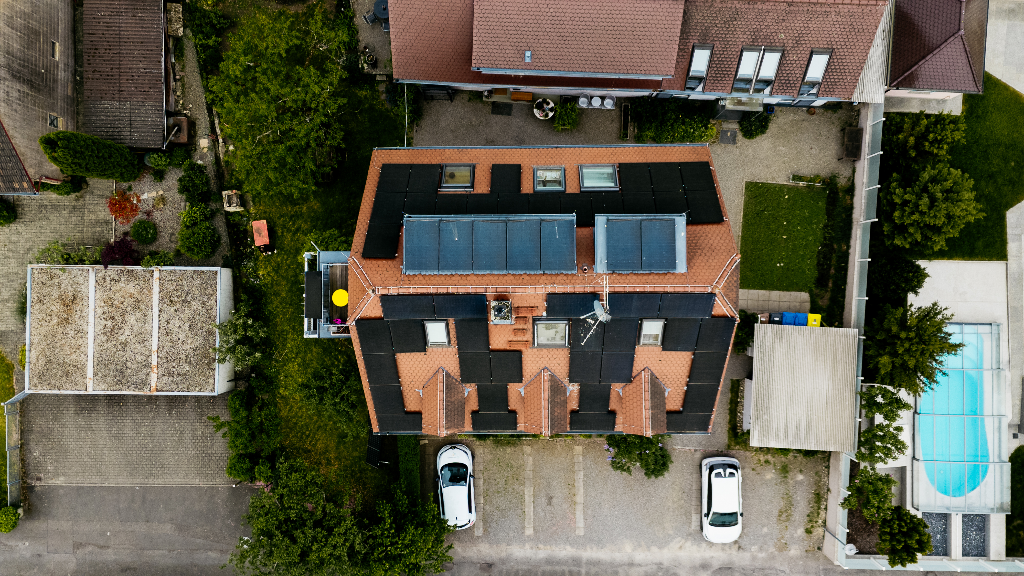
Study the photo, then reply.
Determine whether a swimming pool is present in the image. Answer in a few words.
Yes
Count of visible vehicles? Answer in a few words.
2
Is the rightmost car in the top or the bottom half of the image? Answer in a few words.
bottom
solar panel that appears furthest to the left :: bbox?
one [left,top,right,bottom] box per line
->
[302,272,322,318]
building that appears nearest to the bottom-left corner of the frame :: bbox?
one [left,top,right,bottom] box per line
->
[28,264,237,395]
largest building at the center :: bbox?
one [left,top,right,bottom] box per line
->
[336,142,745,439]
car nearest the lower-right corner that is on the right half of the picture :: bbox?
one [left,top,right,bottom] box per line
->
[700,456,748,543]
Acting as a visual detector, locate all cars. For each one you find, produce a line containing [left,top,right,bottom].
[435,443,478,531]
[700,456,748,543]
